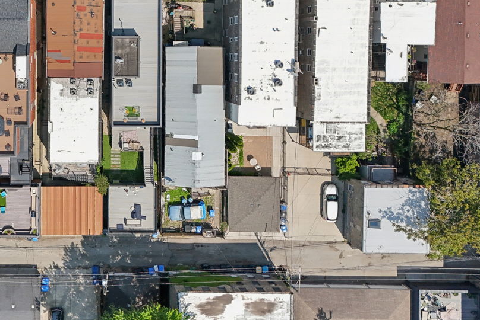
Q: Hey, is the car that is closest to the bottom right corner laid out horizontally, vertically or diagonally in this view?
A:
vertically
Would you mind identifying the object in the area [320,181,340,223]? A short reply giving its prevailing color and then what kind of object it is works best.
white car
